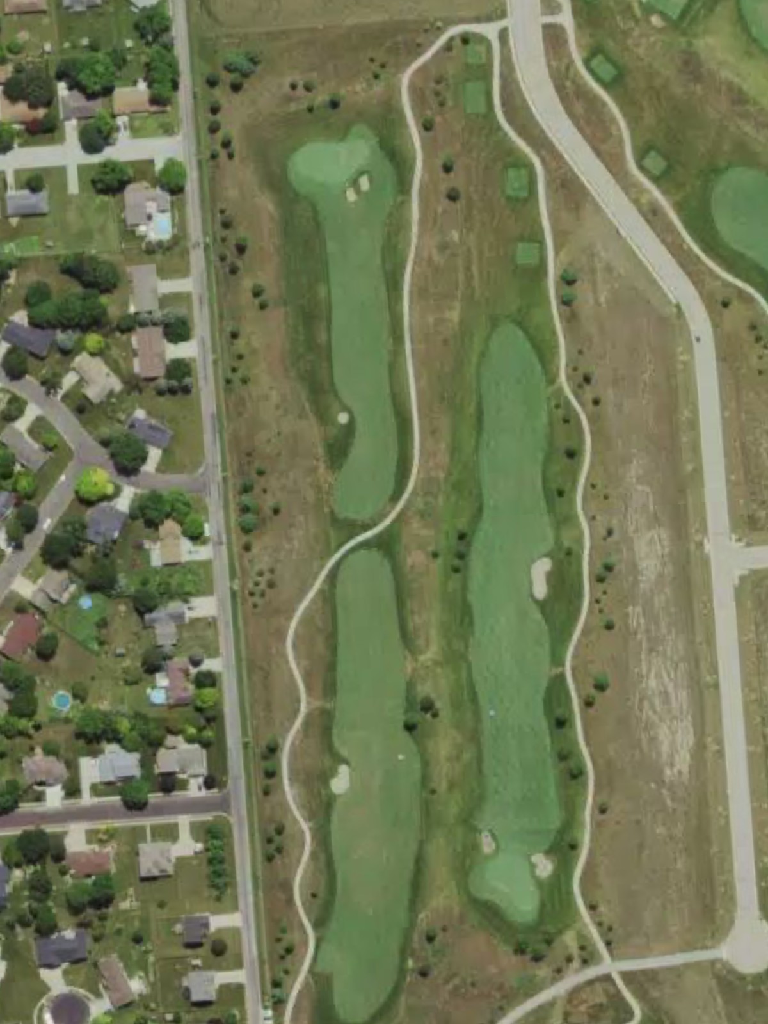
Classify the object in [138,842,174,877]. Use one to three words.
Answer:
house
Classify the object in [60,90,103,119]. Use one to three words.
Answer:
house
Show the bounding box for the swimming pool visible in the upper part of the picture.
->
[153,212,172,240]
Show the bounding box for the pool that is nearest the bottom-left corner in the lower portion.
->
[53,693,70,710]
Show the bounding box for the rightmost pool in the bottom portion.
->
[147,687,168,705]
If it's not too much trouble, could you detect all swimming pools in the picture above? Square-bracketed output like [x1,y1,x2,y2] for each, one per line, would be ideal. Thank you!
[153,212,172,240]
[147,687,168,705]
[79,596,92,608]
[53,693,70,710]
